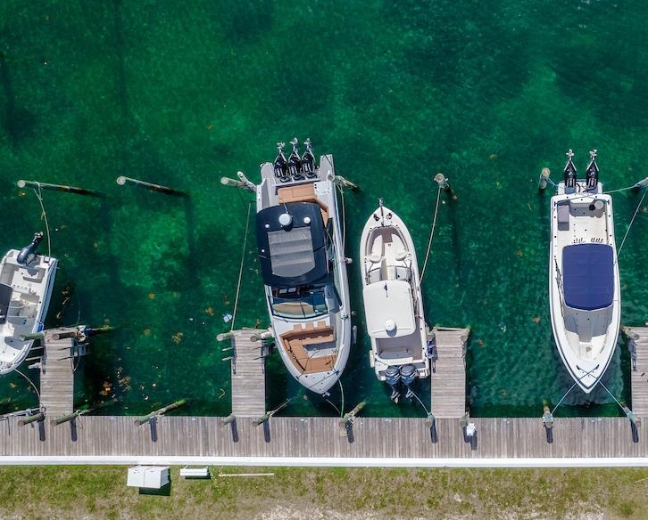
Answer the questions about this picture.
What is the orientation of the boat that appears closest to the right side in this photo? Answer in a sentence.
What the image shows is the boat that appears closest to the right side lying up and down.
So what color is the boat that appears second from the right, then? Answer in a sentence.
In this view, the boat that appears second from the right is white.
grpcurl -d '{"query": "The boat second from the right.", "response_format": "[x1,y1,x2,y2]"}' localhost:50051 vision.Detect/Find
[360,196,431,399]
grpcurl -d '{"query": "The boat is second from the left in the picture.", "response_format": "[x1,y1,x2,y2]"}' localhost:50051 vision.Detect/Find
[257,139,357,400]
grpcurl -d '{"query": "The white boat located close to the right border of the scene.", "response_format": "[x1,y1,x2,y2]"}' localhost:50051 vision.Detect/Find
[549,151,622,394]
